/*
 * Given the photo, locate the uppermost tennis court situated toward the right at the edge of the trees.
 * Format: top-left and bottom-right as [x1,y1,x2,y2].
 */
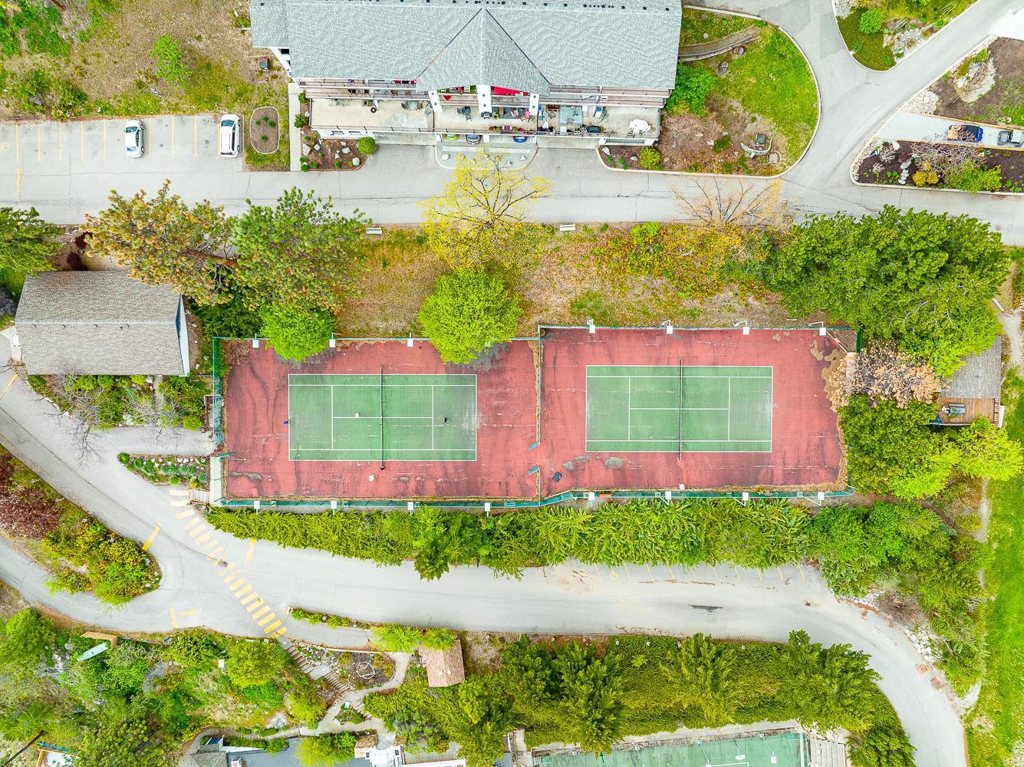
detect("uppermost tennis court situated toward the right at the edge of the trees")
[541,325,852,502]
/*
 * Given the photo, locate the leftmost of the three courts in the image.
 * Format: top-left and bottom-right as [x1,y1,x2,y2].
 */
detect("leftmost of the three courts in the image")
[219,335,551,501]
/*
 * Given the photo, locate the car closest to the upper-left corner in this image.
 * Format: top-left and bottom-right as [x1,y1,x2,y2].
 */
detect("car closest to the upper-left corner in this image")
[122,119,144,157]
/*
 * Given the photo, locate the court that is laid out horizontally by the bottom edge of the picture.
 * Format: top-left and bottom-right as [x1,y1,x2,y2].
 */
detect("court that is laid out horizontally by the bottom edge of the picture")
[538,734,800,767]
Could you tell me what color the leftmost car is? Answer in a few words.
white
